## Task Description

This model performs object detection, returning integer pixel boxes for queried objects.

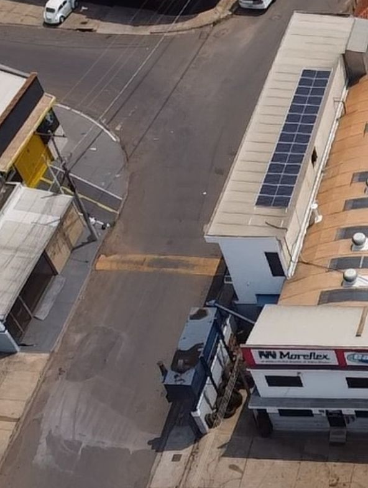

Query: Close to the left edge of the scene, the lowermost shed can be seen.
[0,189,83,367]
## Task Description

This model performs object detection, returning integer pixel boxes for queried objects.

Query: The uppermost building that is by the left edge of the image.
[0,68,93,220]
